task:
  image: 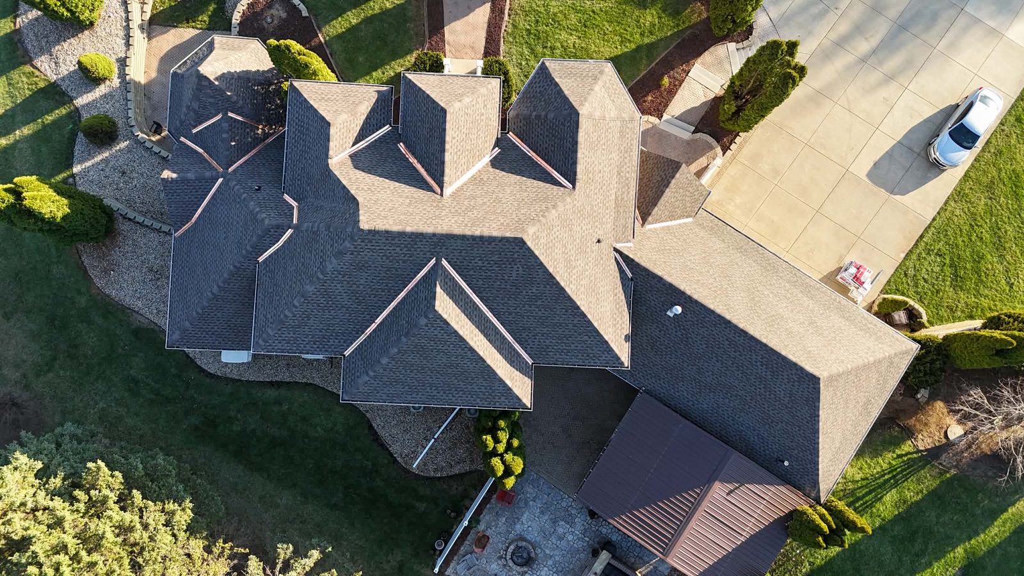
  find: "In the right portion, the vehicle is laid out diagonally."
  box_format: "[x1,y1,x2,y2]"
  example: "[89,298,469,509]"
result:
[928,80,1011,172]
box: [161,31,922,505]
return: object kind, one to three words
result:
house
